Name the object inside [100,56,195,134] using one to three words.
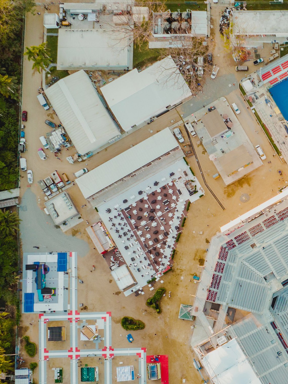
tent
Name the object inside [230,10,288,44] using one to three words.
building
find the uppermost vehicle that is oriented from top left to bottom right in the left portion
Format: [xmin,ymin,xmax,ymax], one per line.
[34,93,49,110]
